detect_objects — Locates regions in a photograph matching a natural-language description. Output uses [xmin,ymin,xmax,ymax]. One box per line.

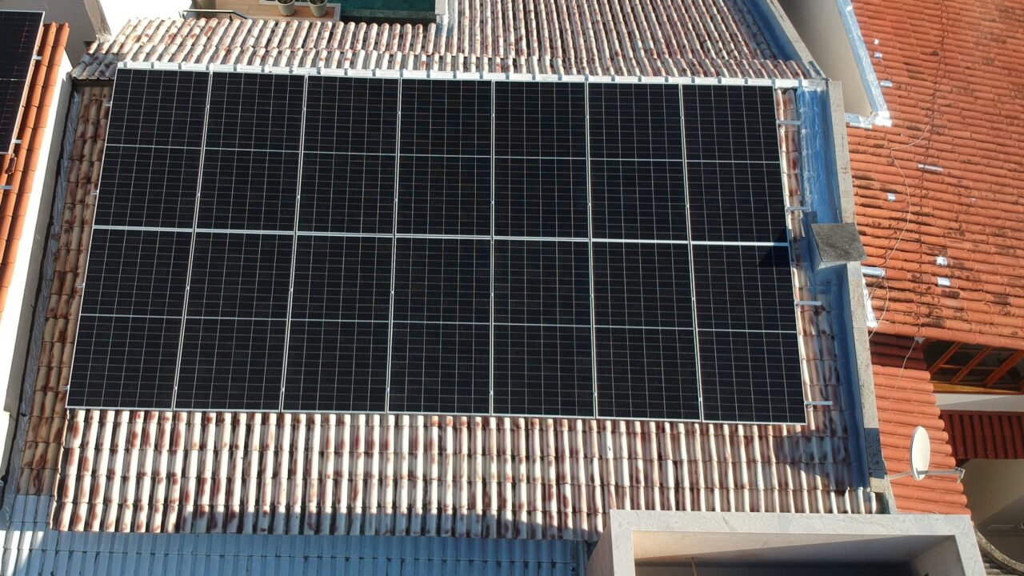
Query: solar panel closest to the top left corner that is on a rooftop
[0,15,44,159]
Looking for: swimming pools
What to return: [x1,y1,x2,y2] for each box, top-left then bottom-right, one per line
[340,0,433,34]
